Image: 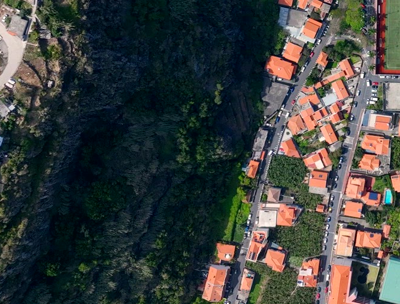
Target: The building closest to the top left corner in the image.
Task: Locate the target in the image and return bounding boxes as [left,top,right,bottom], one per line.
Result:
[7,16,37,39]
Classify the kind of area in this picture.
residential area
